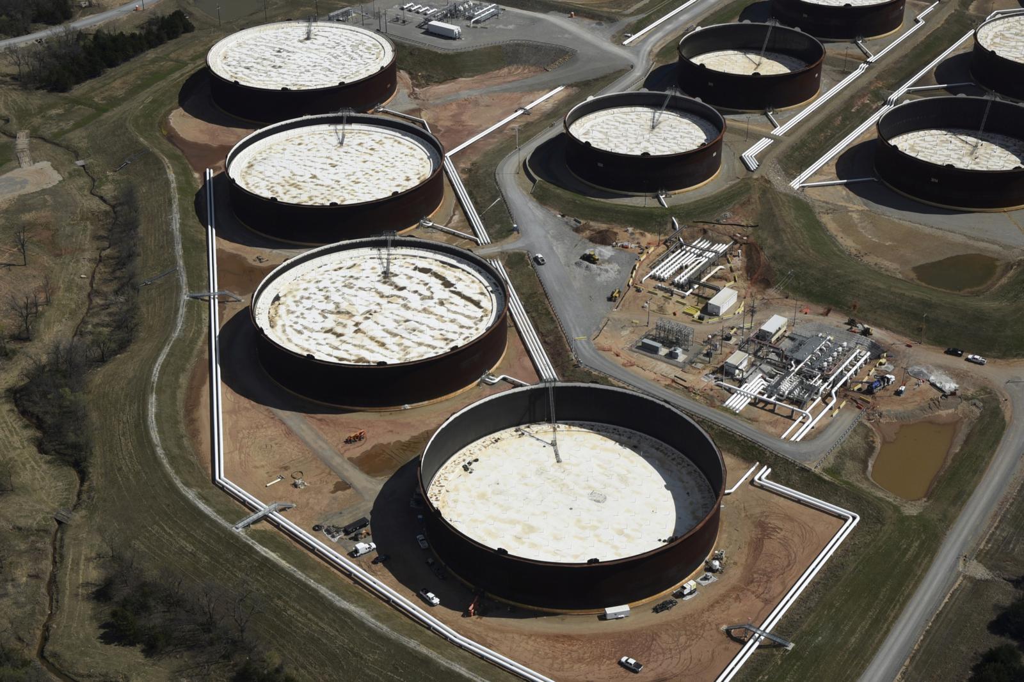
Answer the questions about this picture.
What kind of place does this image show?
industrial area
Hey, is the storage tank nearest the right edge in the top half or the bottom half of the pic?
top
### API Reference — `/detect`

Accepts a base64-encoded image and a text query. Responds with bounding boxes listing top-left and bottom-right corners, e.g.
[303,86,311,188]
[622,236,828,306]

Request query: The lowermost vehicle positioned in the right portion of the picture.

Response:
[619,654,644,671]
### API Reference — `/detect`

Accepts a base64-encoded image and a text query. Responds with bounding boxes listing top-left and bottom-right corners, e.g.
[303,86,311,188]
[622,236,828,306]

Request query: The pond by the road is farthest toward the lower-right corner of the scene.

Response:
[870,418,964,501]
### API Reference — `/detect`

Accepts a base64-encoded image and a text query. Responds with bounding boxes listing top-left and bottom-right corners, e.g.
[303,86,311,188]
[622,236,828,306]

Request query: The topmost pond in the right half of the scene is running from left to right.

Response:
[912,255,999,291]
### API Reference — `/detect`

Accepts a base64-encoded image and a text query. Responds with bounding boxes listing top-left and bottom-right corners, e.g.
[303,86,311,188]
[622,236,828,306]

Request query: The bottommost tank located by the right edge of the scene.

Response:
[872,88,1024,211]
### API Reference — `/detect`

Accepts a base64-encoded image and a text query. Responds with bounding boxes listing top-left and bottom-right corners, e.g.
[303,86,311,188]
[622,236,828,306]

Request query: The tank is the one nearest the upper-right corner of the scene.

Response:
[967,9,1024,98]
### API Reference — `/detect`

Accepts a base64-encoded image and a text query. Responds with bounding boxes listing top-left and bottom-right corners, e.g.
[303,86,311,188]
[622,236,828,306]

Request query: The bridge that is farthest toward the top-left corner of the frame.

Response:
[15,129,35,168]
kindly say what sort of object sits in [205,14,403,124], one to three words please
storage tank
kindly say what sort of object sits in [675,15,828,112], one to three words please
storage tank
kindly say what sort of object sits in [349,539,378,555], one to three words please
vehicle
